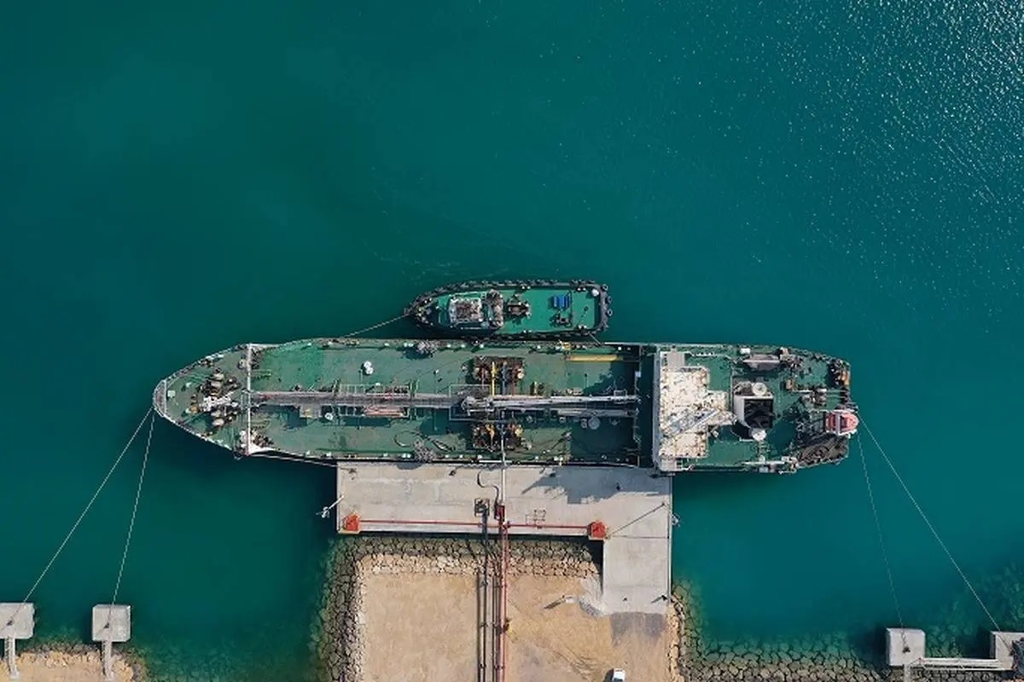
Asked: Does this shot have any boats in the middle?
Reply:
Yes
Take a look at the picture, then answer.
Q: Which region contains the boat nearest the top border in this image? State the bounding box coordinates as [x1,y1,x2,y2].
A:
[404,278,614,341]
